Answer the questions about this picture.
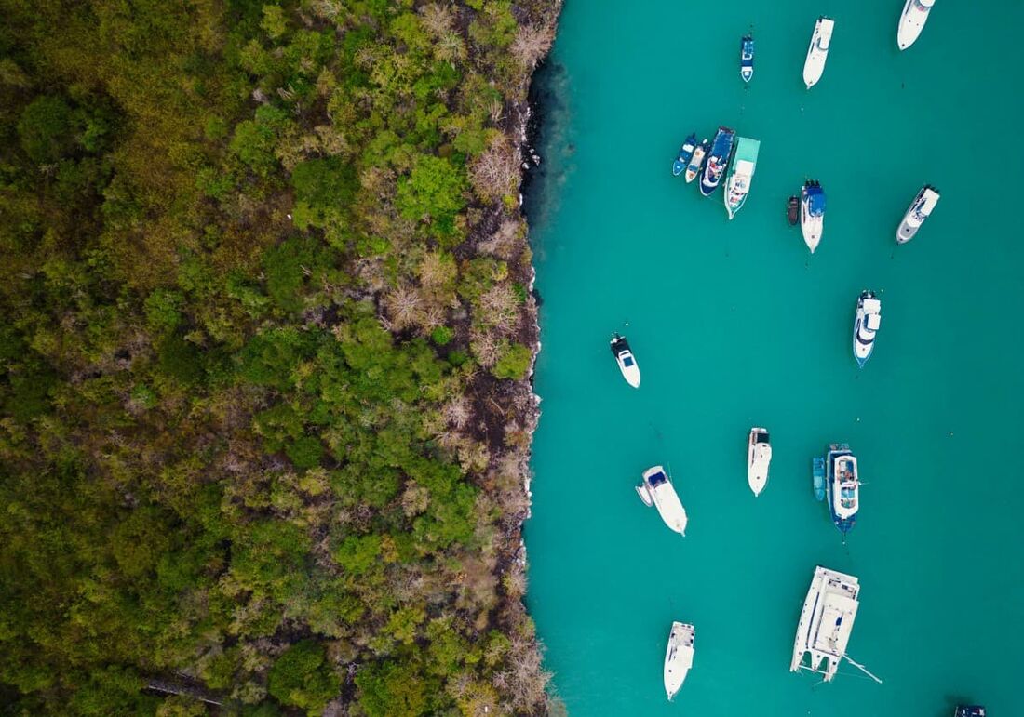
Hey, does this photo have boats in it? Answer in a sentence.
Yes, there's a boat here.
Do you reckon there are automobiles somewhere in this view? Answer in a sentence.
No, there is no automobile in the image.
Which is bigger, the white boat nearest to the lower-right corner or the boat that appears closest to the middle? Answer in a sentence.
The white boat nearest to the lower-right corner takes up more space than the boat that appears closest to the middle.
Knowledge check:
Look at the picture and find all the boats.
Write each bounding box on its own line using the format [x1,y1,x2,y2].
[741,34,755,82]
[686,142,705,183]
[664,620,694,702]
[806,14,835,90]
[610,332,640,387]
[747,424,768,497]
[636,483,652,506]
[703,125,736,196]
[675,137,696,175]
[854,293,881,370]
[812,455,825,501]
[896,184,944,245]
[786,194,799,226]
[952,700,985,717]
[642,465,684,537]
[898,0,934,50]
[725,137,758,221]
[822,445,862,541]
[788,565,882,690]
[800,181,825,254]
